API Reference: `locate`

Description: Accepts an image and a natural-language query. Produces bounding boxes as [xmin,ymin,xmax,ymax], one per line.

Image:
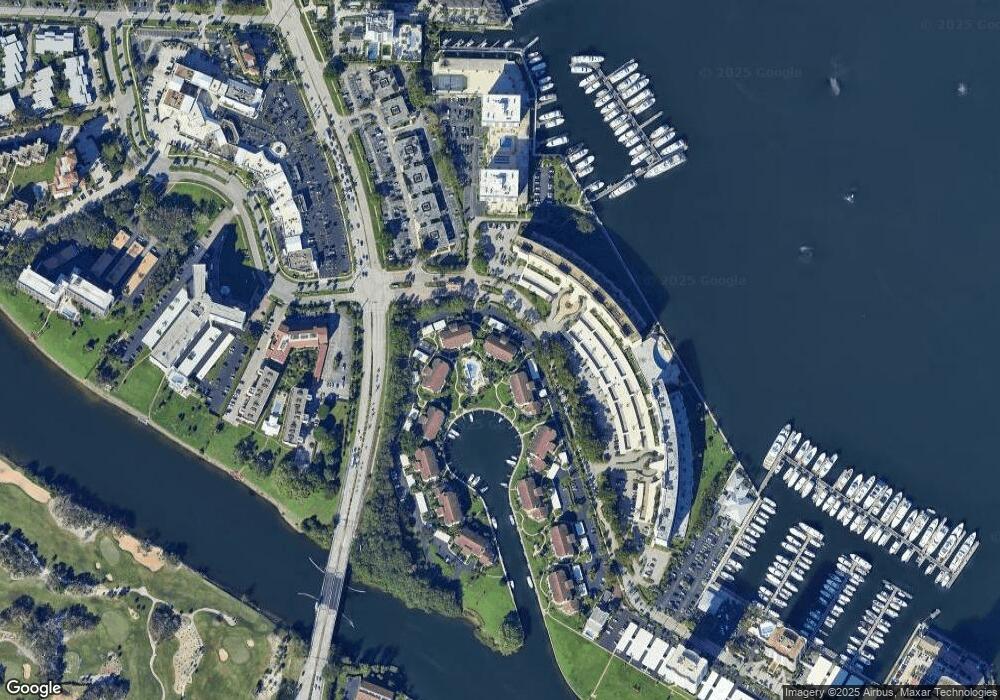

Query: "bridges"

[297,528,365,679]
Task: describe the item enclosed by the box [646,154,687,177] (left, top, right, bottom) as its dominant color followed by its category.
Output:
white boat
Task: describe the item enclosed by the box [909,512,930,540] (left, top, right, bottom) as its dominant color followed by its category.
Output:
white boat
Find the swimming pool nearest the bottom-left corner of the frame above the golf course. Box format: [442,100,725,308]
[168,366,189,396]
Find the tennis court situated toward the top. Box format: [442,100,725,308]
[431,74,467,92]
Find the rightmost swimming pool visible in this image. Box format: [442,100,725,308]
[657,336,672,361]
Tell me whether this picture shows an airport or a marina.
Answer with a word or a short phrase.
marina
